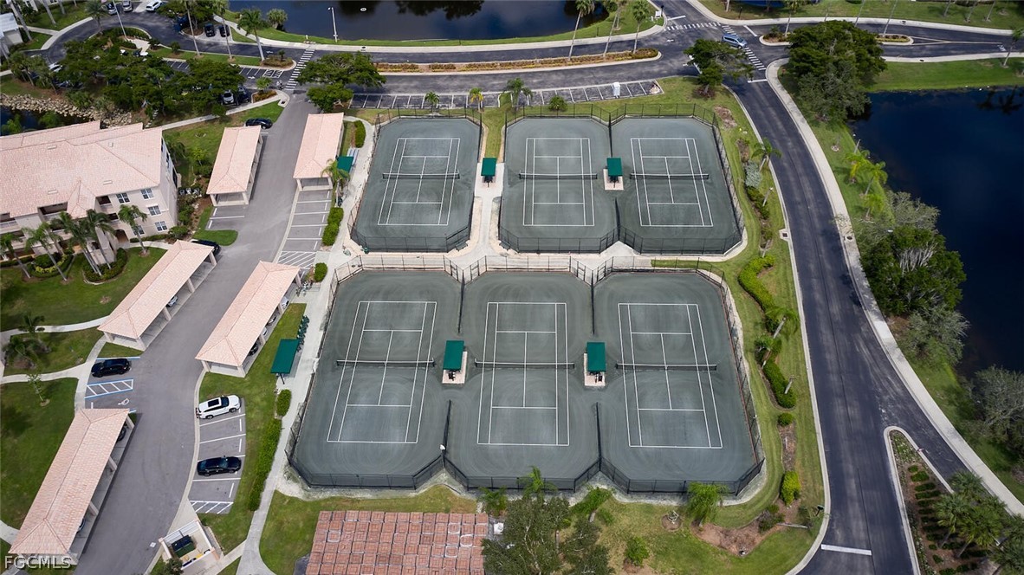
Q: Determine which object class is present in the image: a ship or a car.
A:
car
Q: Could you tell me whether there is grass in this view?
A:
Yes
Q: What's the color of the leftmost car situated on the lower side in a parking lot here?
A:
black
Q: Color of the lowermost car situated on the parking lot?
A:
black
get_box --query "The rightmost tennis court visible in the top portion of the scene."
[611,118,740,253]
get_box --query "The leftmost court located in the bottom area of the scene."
[291,271,461,489]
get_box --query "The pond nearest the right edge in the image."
[848,87,1024,425]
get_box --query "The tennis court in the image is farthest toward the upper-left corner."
[351,118,479,251]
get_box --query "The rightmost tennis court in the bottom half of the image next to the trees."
[593,273,759,494]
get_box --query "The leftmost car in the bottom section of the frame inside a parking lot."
[92,355,130,379]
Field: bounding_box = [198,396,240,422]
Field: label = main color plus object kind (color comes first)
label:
white car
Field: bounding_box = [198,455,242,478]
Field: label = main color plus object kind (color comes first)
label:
black car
